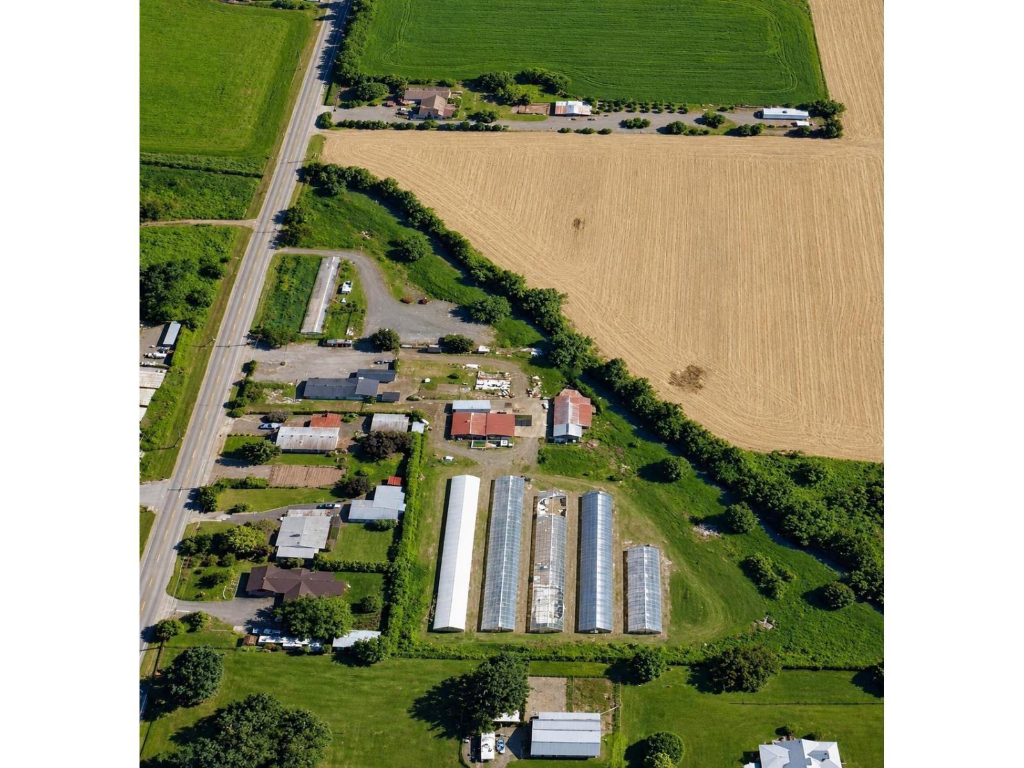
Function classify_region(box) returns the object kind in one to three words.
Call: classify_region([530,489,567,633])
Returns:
greenhouse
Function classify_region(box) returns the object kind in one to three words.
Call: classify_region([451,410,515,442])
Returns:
building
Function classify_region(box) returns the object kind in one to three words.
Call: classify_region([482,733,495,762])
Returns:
vehicle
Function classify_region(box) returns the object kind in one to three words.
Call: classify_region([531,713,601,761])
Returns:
barn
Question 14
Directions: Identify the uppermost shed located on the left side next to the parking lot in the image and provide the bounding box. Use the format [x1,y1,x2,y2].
[302,255,341,338]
